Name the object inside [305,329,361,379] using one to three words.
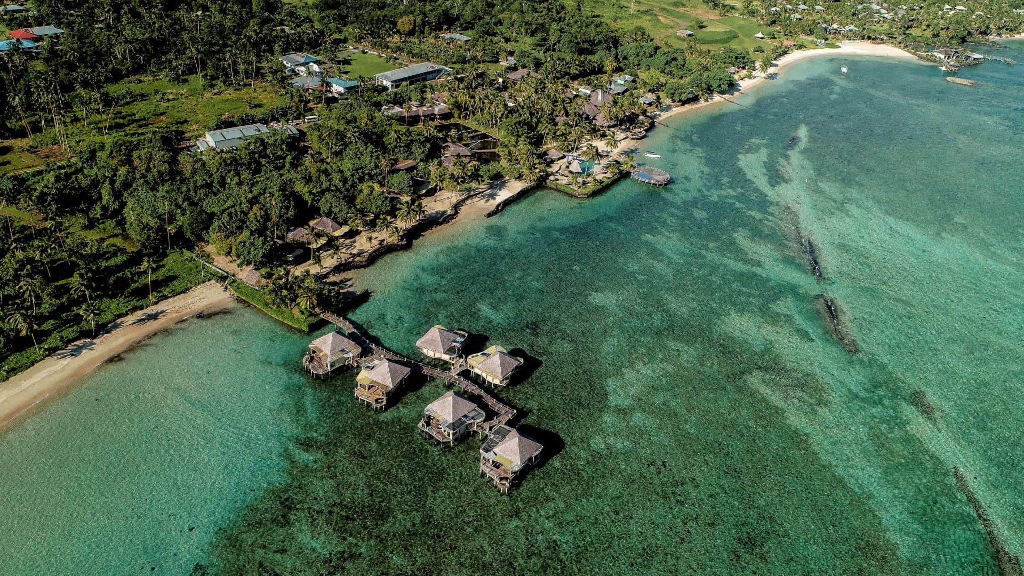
house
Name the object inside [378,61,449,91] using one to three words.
building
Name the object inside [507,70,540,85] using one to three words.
shed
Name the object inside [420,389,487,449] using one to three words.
house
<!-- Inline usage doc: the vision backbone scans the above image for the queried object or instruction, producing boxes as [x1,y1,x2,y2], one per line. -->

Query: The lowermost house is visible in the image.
[479,425,545,496]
